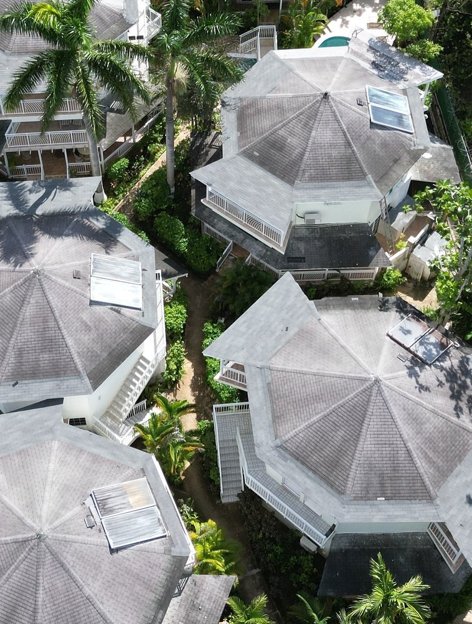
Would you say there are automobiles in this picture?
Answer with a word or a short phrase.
No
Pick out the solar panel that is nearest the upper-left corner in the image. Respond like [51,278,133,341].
[88,254,141,311]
